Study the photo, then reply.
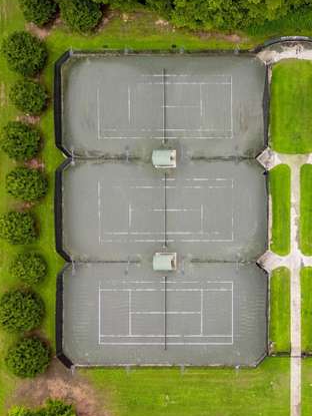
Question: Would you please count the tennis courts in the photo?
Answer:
3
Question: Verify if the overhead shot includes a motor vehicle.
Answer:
No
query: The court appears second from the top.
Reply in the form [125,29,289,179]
[63,157,268,262]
